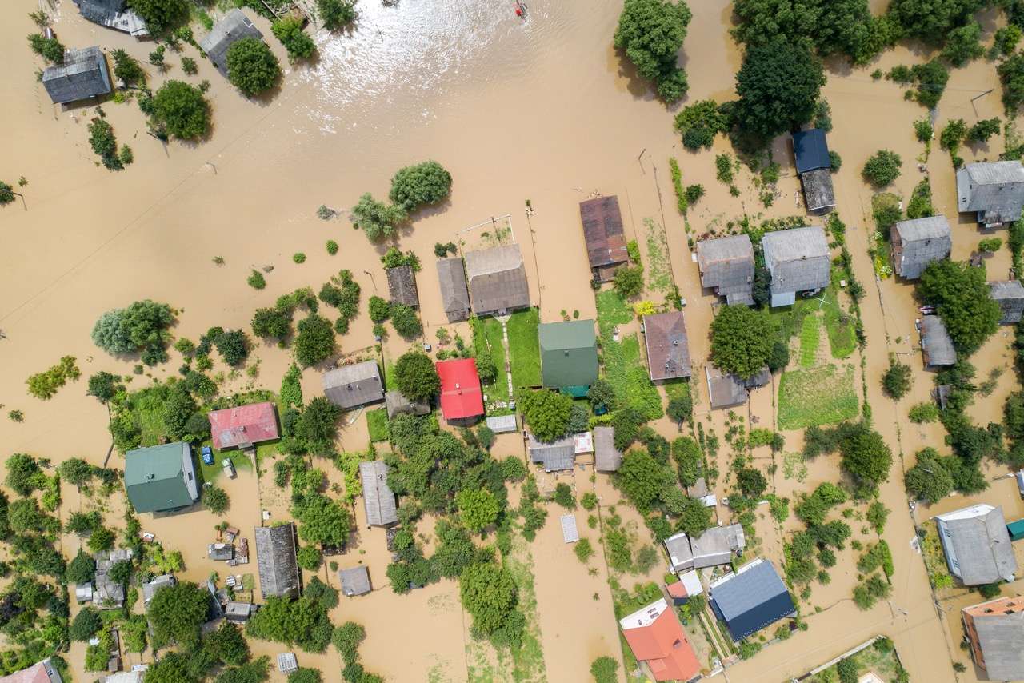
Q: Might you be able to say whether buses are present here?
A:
No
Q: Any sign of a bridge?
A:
No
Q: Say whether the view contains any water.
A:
Yes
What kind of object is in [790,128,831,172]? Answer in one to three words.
shed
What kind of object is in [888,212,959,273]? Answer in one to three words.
house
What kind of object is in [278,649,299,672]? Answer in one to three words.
greenhouse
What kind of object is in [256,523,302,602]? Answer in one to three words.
barn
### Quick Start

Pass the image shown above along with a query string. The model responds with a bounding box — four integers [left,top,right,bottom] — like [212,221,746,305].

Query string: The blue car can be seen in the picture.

[202,446,214,465]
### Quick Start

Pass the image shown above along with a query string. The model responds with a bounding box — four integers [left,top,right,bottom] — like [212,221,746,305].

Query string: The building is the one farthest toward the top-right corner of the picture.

[958,160,1024,224]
